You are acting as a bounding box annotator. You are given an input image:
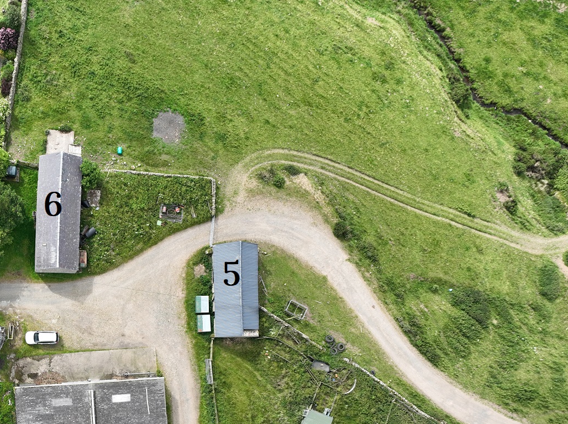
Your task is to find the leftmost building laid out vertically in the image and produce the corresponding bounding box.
[32,150,82,274]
